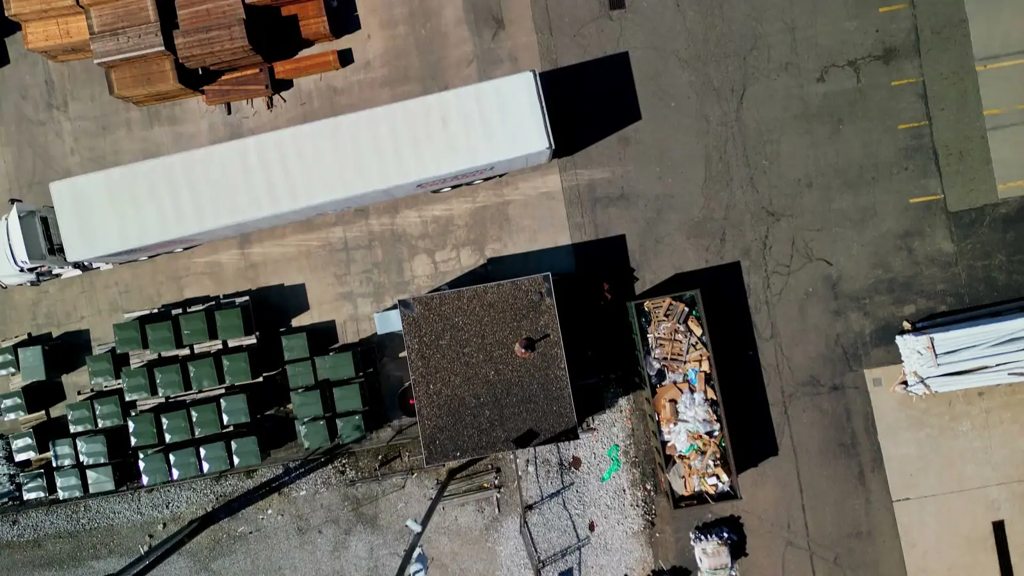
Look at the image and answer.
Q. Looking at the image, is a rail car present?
No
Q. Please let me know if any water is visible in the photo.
No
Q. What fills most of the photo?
paved ground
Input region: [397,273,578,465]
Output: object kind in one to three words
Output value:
building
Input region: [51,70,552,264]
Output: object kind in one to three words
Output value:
trailer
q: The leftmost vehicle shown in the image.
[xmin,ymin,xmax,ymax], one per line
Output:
[0,196,192,291]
